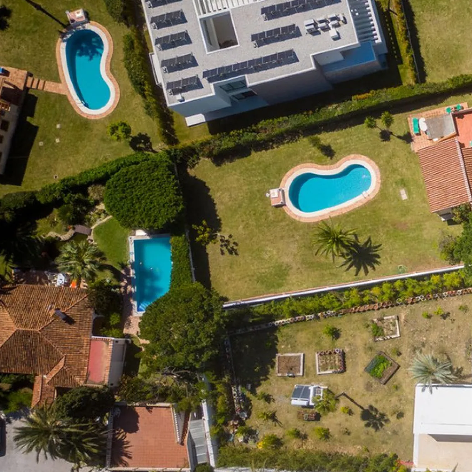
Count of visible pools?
3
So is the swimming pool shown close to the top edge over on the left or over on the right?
left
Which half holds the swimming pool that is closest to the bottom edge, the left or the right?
left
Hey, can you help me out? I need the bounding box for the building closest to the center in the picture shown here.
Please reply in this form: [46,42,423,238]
[269,187,288,208]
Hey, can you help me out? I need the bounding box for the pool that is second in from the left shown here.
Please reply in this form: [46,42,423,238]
[128,232,176,317]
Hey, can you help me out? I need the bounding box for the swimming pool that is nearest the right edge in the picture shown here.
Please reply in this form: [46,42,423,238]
[280,155,382,221]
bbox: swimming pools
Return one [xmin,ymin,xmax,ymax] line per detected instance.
[56,20,121,120]
[128,232,176,317]
[280,155,382,221]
